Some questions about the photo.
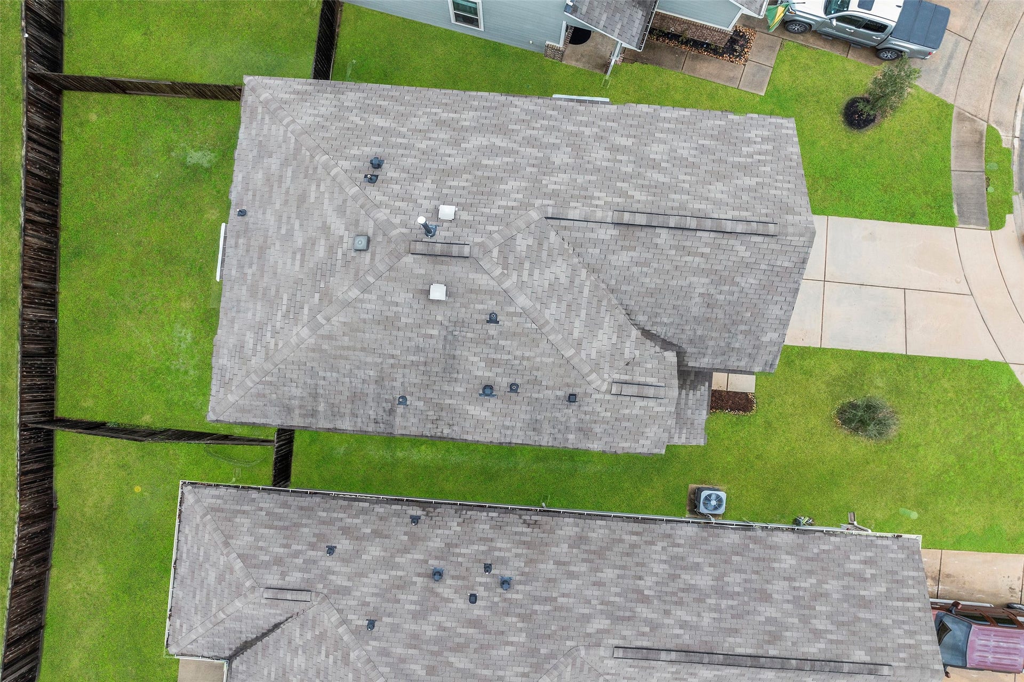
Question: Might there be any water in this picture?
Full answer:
No, there is no water in the image.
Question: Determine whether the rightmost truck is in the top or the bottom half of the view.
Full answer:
Seen from above, the rightmost truck lies in the bottom half of the view.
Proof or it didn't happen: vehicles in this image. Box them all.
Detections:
[774,0,951,63]
[930,592,1024,680]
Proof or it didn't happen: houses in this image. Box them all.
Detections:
[343,0,771,92]
[212,74,817,457]
[166,481,948,682]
